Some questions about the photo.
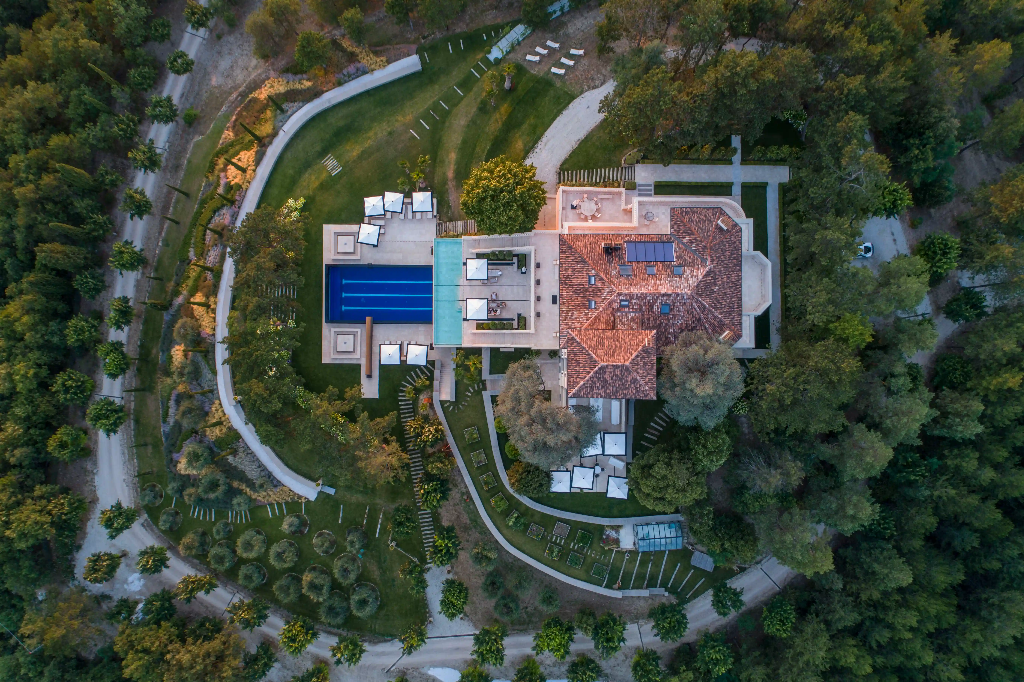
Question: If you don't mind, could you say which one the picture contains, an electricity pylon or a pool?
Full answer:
The image shows a pool.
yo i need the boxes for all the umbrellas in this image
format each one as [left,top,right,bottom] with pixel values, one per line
[549,470,571,493]
[466,298,489,321]
[571,465,595,490]
[364,196,386,218]
[466,258,489,281]
[582,431,603,458]
[406,344,429,366]
[411,192,434,213]
[383,192,405,214]
[356,223,382,247]
[379,344,401,365]
[606,475,630,500]
[602,432,627,456]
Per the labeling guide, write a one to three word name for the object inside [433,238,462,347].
swimming pool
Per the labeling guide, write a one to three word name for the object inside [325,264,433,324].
swimming pool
